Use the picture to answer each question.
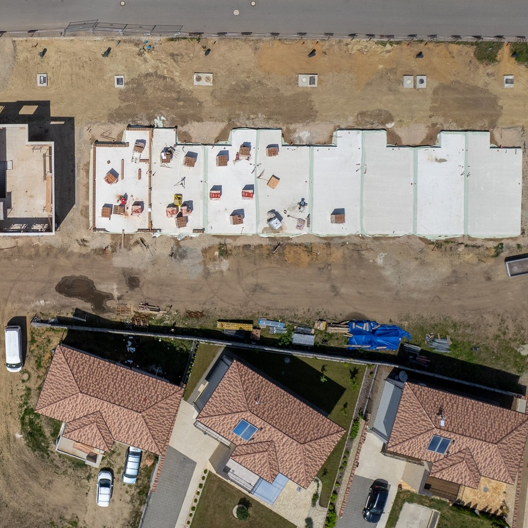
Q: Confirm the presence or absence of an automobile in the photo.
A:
Yes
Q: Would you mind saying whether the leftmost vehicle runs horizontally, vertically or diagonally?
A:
vertically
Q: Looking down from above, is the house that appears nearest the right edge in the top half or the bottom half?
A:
bottom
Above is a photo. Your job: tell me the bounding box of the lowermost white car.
[96,467,114,506]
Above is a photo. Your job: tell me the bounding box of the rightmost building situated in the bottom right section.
[377,377,528,500]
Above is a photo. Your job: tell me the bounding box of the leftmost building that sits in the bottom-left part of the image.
[35,344,185,468]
